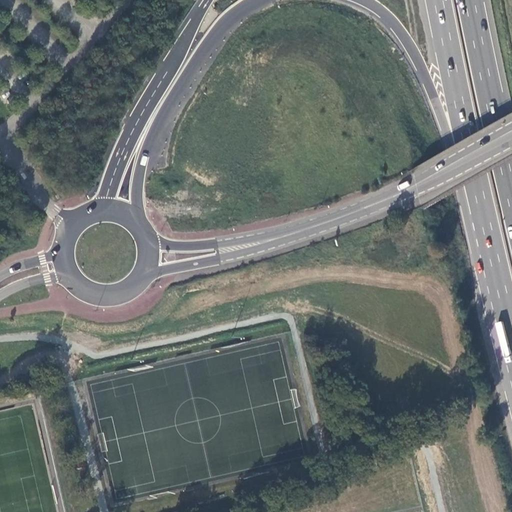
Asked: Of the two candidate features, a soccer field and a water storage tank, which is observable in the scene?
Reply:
soccer field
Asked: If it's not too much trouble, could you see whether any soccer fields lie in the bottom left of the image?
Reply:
Yes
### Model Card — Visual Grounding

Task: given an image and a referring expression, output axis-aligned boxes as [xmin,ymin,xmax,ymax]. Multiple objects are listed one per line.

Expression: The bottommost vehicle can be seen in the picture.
[494,321,510,362]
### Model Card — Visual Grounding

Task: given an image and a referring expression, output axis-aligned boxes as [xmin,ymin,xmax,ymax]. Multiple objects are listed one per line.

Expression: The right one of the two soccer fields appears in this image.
[78,330,315,504]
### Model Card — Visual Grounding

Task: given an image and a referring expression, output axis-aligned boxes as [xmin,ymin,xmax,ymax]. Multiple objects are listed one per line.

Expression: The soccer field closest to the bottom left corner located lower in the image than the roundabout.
[0,397,66,512]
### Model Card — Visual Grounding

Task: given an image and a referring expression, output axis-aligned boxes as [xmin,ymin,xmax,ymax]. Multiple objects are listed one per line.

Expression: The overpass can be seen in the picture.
[412,112,512,206]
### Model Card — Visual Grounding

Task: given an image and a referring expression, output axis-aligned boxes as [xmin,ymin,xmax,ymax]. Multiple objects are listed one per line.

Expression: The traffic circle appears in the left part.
[0,133,216,308]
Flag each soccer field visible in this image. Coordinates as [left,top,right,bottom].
[78,330,315,504]
[0,397,66,512]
